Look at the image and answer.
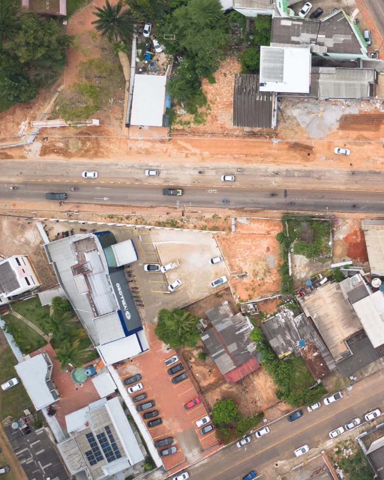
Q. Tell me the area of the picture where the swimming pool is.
bottom left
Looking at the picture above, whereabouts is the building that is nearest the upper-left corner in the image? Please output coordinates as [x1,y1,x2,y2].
[130,74,174,127]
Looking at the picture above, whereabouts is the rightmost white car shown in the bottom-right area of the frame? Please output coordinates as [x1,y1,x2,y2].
[364,409,381,421]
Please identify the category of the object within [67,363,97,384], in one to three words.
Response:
swimming pool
